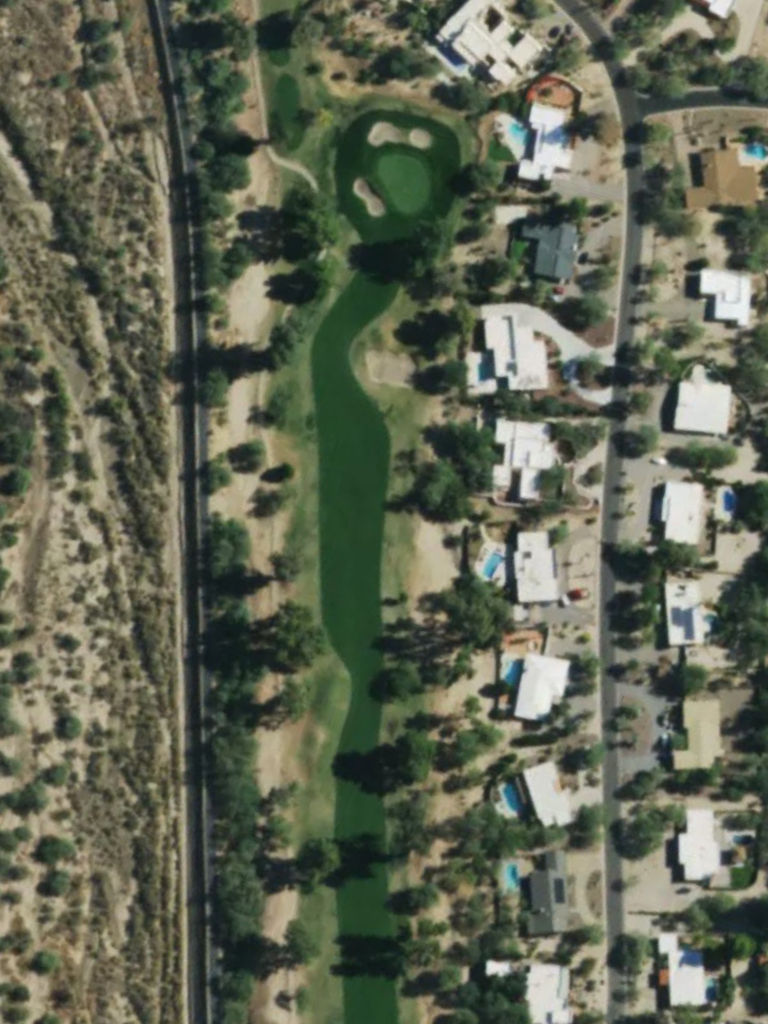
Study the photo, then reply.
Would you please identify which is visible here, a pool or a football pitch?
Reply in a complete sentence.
There is a pool in the scene.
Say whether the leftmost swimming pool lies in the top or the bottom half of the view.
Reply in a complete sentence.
It is in the top half that the leftmost swimming pool appears.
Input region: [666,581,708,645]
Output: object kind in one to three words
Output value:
house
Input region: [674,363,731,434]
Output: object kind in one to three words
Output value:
house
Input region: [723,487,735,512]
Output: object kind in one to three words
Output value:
swimming pool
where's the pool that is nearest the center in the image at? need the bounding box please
[482,552,504,579]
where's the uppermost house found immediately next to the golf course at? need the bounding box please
[436,0,542,85]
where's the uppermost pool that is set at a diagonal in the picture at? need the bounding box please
[439,45,467,70]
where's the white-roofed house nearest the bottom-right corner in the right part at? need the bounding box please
[659,933,705,1006]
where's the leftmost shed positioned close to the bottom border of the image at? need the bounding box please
[486,960,510,977]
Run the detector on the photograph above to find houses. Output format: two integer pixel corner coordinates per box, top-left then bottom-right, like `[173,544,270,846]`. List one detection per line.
[666,581,708,645]
[436,0,542,85]
[526,965,574,1024]
[674,363,731,434]
[663,481,704,545]
[659,933,705,1006]
[674,698,723,770]
[696,0,735,18]
[686,146,759,209]
[700,269,751,325]
[485,314,549,390]
[514,653,571,721]
[523,220,579,281]
[515,532,559,602]
[492,419,556,499]
[678,809,720,881]
[518,103,575,180]
[524,762,573,827]
[527,851,570,937]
